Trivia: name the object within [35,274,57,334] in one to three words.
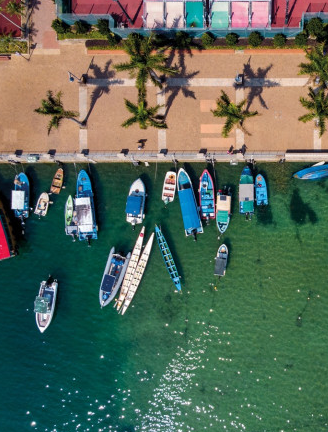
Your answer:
boat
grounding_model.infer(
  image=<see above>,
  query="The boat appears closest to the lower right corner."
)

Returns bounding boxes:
[215,243,228,280]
